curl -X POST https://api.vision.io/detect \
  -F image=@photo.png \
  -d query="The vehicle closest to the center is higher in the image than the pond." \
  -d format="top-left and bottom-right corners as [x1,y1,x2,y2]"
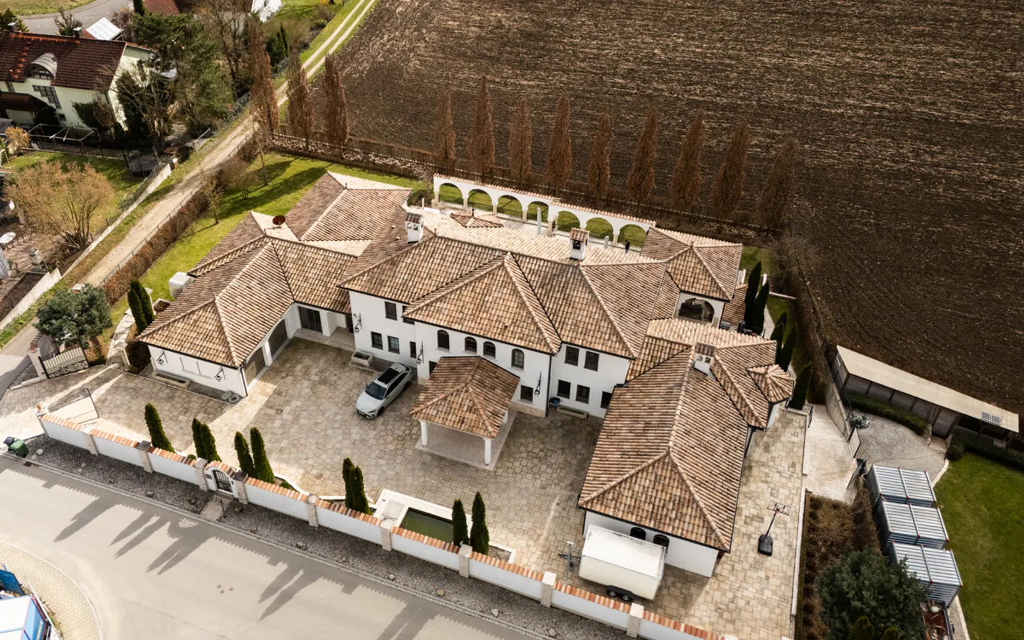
[354,360,415,421]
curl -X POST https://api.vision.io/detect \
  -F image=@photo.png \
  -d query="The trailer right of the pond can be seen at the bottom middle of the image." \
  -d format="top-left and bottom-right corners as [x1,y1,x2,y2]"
[550,525,667,599]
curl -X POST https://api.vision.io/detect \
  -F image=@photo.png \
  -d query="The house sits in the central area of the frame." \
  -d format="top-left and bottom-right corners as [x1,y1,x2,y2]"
[132,169,796,577]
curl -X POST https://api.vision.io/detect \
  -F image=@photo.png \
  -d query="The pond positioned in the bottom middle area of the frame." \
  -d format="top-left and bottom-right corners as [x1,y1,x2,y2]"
[367,485,474,549]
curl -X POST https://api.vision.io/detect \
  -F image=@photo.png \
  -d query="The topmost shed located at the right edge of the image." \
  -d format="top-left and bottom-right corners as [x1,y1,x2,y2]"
[833,347,1019,451]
